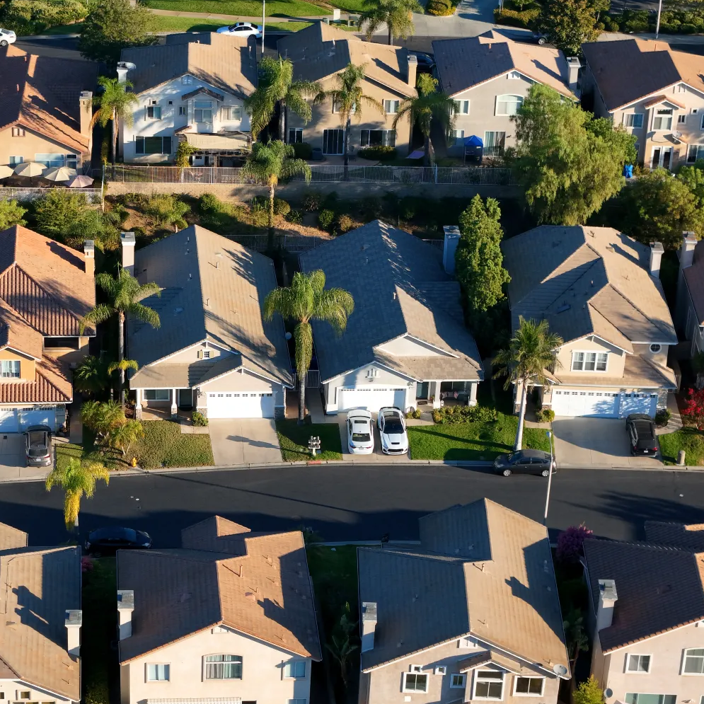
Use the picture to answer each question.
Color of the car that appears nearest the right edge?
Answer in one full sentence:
The color of the car that appears nearest the right edge is black.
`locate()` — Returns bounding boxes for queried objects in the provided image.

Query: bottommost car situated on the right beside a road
[492,449,558,480]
